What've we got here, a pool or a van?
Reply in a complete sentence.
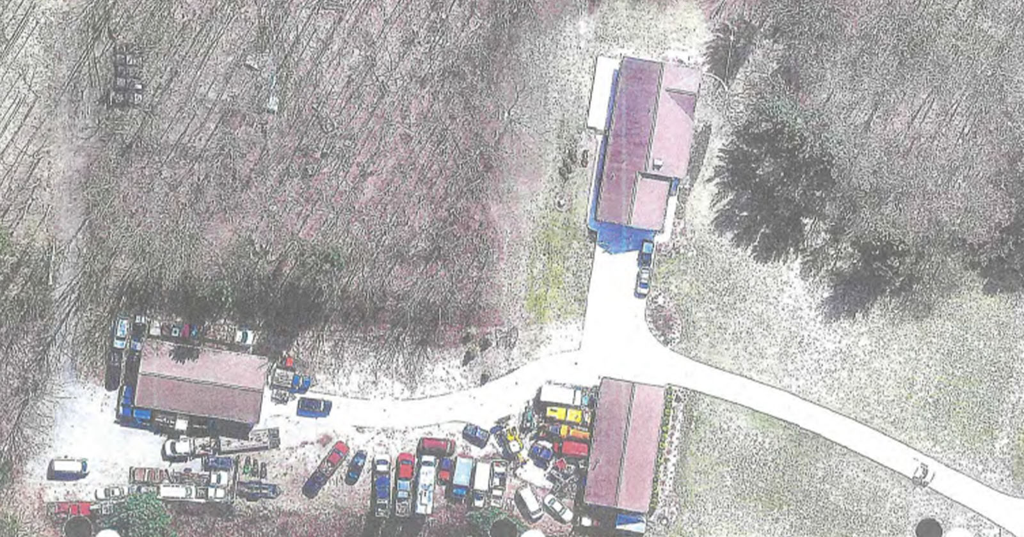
There is a van in the scene.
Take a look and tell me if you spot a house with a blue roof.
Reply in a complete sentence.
No, the scene contains no house with a blue roof.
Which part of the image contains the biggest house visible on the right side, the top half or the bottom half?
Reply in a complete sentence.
Seen from above, the biggest house visible on the right side lies in the top half of the view.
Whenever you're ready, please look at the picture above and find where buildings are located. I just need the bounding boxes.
[132,333,269,424]
[583,376,667,515]
[595,57,702,235]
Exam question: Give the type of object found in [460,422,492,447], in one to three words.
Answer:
car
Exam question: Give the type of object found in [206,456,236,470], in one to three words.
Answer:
vehicle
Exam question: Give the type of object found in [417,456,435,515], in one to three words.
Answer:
camper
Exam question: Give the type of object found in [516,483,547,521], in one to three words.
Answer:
van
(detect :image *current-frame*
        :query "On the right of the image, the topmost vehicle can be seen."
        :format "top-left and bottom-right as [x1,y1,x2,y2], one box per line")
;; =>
[638,240,653,267]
